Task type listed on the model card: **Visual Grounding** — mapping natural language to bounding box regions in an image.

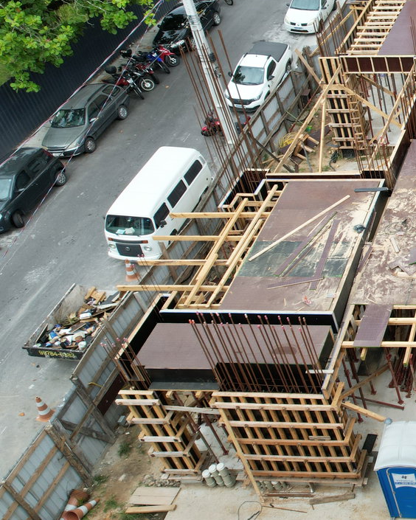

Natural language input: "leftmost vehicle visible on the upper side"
[0,148,62,233]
